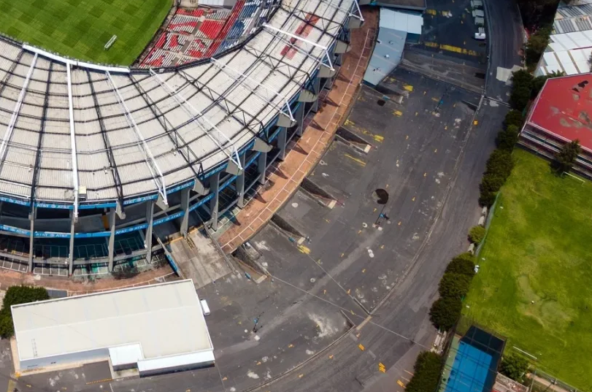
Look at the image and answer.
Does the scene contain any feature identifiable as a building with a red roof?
Yes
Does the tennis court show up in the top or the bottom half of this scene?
bottom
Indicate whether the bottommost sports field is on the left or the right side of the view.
right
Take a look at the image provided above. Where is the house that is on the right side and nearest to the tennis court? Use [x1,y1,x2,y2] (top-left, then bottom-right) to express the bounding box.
[489,373,530,392]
